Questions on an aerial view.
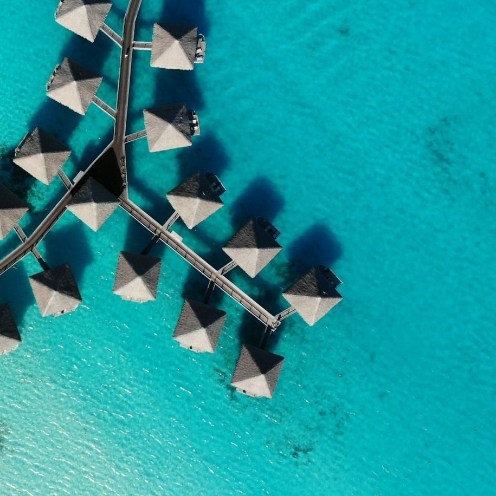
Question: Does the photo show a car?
No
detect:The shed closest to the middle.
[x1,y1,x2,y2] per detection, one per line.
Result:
[222,216,284,278]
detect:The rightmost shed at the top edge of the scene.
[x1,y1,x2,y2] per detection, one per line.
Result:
[149,21,206,72]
